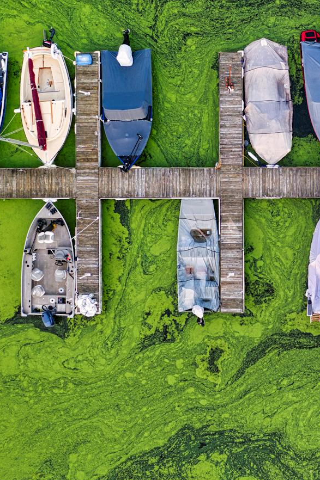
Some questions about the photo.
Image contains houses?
No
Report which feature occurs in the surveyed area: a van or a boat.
boat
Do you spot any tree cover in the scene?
No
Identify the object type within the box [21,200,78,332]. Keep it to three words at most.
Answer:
boat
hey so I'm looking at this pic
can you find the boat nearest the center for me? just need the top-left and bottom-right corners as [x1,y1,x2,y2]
[176,199,220,329]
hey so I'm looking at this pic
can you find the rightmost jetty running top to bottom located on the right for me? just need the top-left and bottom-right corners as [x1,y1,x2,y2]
[218,50,246,314]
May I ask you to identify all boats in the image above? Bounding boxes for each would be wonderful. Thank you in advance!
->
[101,29,155,172]
[242,38,292,165]
[0,24,75,166]
[21,200,78,332]
[306,216,320,322]
[176,199,220,329]
[0,52,11,143]
[299,29,320,141]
